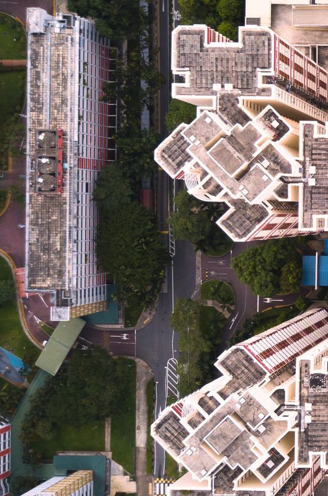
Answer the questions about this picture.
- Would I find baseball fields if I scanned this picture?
No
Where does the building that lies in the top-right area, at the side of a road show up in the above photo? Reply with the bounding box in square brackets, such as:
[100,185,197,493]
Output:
[154,25,328,241]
